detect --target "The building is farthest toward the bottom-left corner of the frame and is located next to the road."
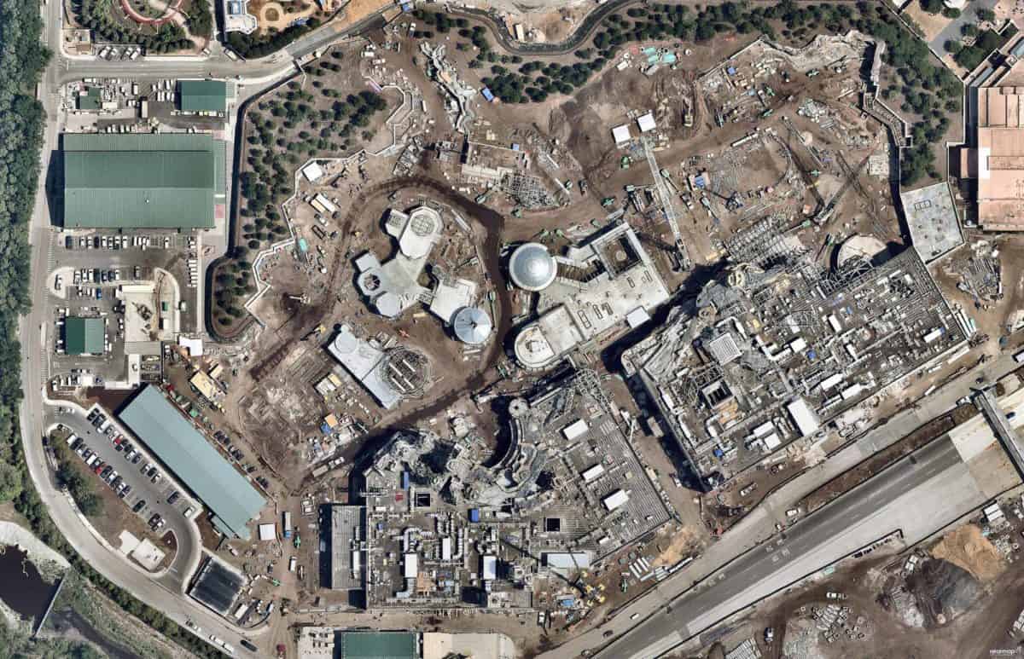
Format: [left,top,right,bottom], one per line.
[132,539,165,571]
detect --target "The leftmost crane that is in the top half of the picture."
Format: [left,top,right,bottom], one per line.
[645,136,699,281]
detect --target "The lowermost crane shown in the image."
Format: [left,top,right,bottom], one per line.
[569,551,605,606]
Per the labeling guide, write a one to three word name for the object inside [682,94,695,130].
vehicle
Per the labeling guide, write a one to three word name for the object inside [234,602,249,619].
vehicle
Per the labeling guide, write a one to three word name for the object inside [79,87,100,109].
shed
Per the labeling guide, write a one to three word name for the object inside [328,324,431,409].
building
